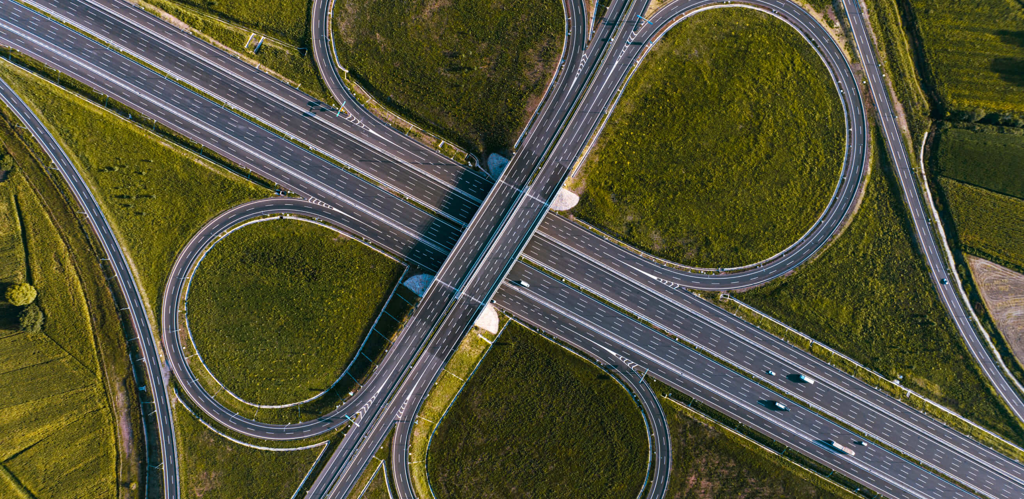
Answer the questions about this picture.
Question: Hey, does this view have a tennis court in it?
No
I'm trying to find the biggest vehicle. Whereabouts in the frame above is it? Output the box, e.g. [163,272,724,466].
[832,442,857,457]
